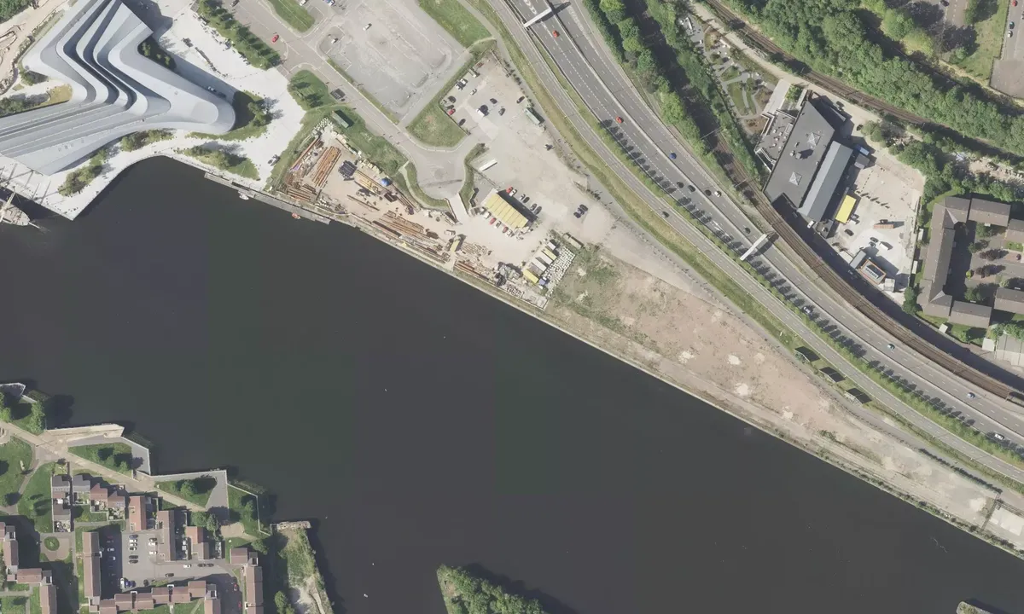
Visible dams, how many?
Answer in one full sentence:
The count of dams is 0.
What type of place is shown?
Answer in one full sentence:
This image shows a port.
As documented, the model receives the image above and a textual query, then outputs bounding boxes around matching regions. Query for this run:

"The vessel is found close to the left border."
[0,191,38,228]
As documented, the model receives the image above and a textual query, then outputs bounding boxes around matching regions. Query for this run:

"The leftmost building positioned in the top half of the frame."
[0,0,235,175]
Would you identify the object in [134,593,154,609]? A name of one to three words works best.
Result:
house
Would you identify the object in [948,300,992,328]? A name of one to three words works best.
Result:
building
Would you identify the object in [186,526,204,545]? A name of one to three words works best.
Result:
house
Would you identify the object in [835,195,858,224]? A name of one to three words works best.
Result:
building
